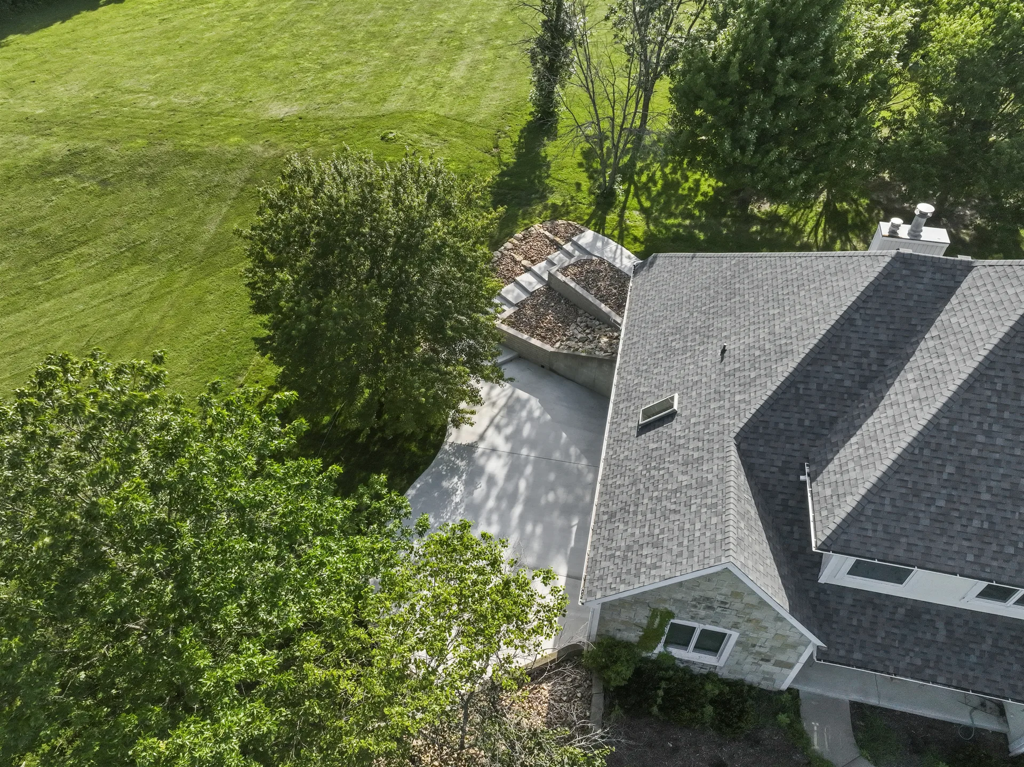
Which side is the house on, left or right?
right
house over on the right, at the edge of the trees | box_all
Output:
[576,203,1024,765]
